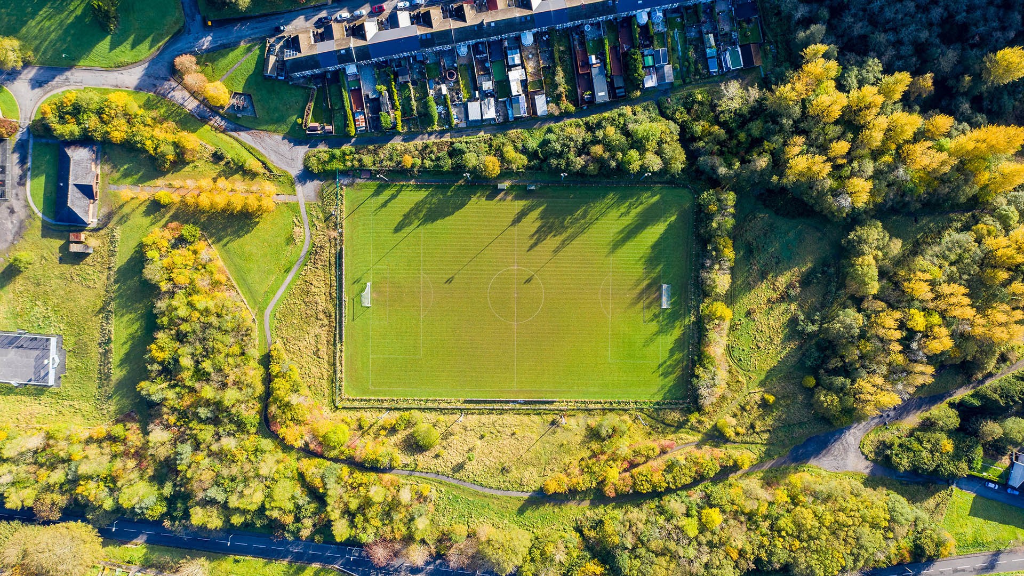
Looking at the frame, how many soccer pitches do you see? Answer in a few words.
1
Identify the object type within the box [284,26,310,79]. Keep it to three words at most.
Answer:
house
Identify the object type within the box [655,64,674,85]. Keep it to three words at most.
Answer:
building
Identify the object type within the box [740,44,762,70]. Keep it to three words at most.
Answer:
building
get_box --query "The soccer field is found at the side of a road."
[344,185,694,399]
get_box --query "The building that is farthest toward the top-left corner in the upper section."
[55,145,104,225]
